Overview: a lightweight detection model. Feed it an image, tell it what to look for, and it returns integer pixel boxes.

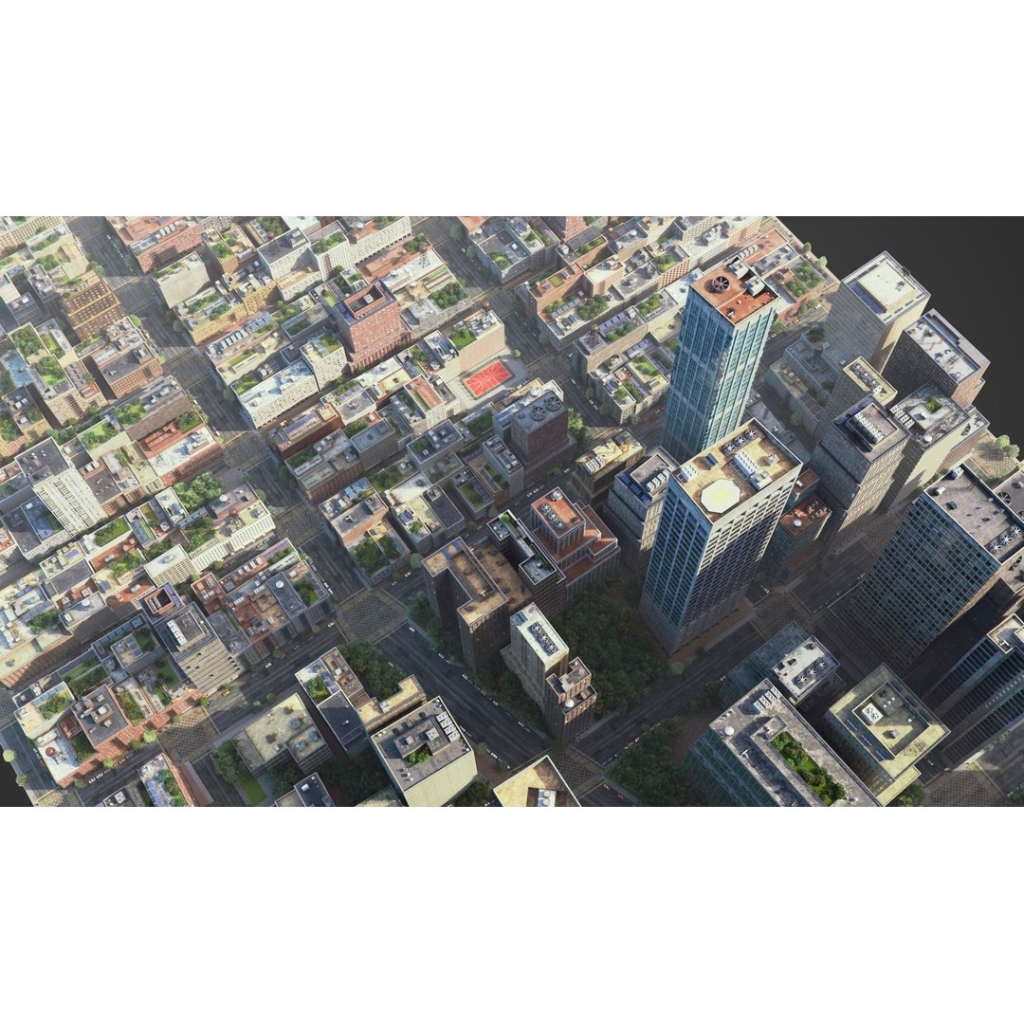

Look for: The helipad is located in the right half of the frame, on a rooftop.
[705,474,743,508]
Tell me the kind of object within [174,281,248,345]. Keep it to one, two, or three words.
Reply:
building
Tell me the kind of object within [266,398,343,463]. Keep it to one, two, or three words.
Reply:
building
